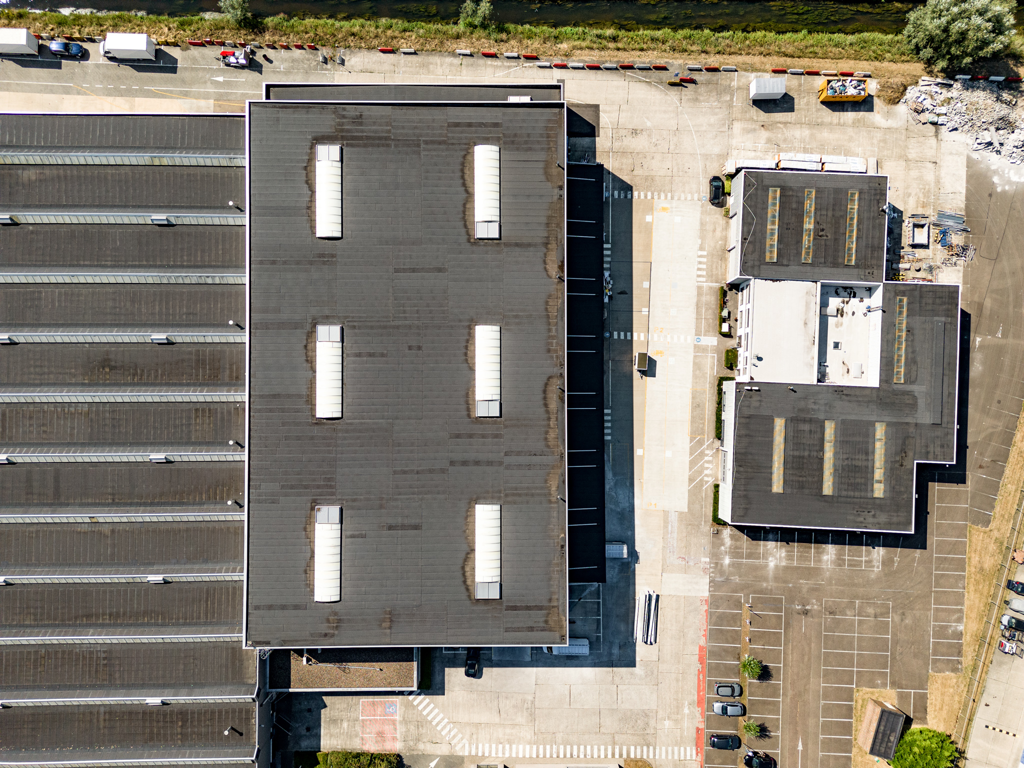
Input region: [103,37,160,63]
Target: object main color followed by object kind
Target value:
white truck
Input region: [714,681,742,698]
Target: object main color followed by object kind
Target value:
gray car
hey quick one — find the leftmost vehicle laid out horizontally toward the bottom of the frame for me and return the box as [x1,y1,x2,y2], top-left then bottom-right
[545,640,590,660]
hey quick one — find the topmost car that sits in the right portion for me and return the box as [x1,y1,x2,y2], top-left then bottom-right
[708,175,725,206]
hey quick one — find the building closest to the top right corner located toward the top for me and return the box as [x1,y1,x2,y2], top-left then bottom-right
[725,169,889,285]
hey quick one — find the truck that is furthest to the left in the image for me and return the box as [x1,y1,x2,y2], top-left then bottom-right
[0,32,46,60]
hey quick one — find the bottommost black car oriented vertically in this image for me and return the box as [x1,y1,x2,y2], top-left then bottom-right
[465,648,480,679]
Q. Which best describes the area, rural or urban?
urban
